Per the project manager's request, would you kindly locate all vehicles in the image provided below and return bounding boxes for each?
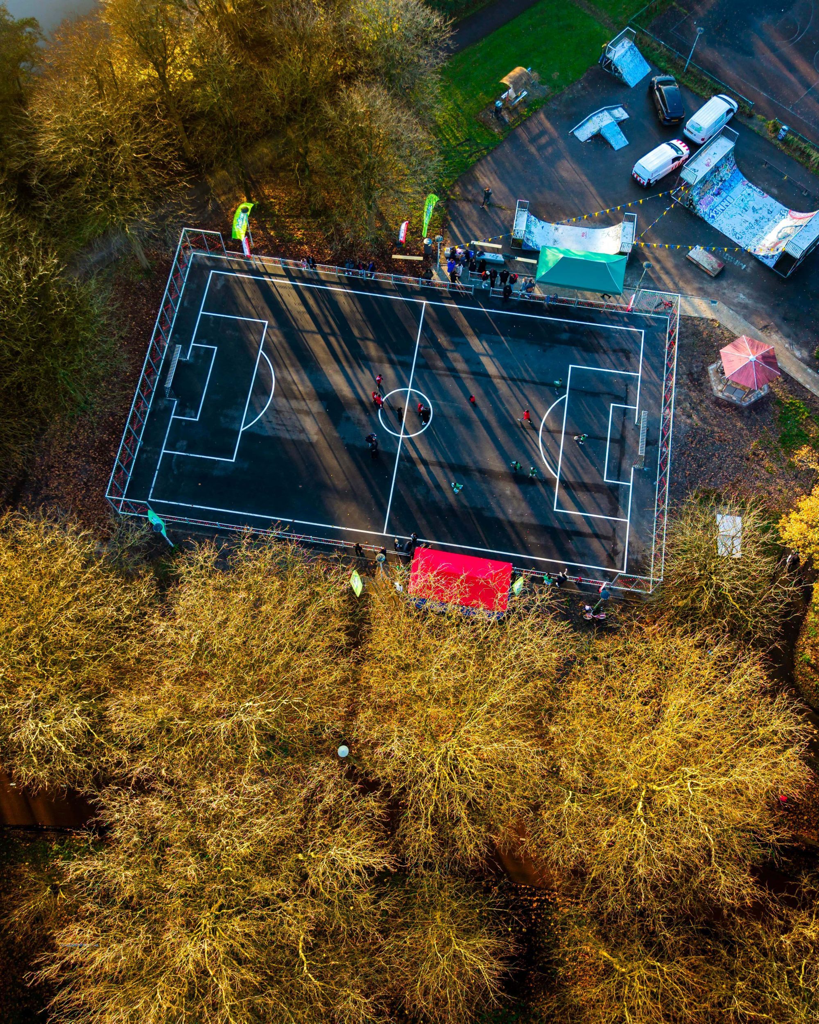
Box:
[631,139,690,189]
[682,93,745,148]
[649,74,687,127]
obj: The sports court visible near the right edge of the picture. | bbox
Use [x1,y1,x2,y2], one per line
[647,0,819,150]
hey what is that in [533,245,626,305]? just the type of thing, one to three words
gazebo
